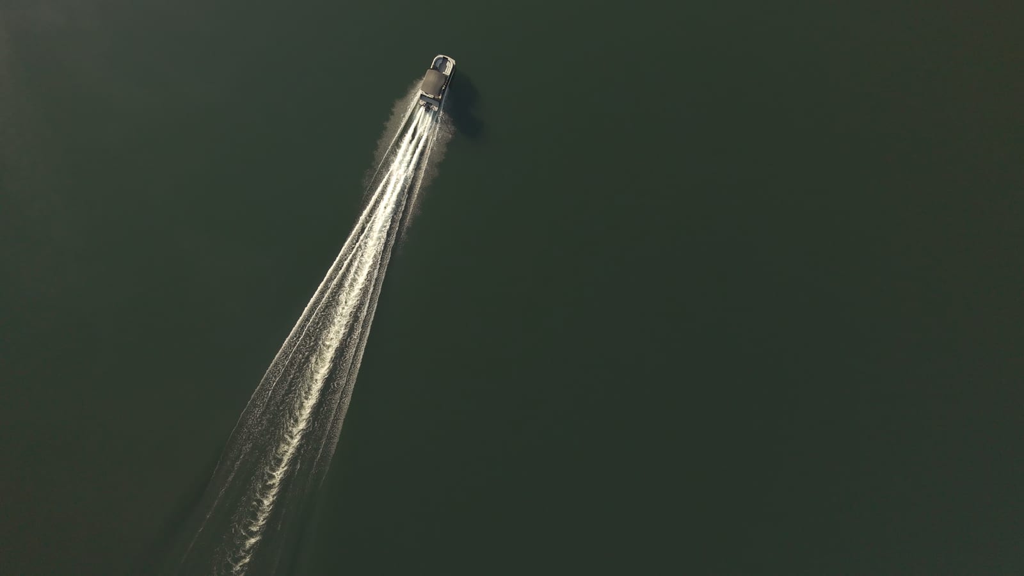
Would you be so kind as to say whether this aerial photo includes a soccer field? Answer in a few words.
No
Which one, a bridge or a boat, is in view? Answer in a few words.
boat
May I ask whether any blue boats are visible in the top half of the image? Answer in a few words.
No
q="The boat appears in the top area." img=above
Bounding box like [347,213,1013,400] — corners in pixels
[420,54,455,112]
